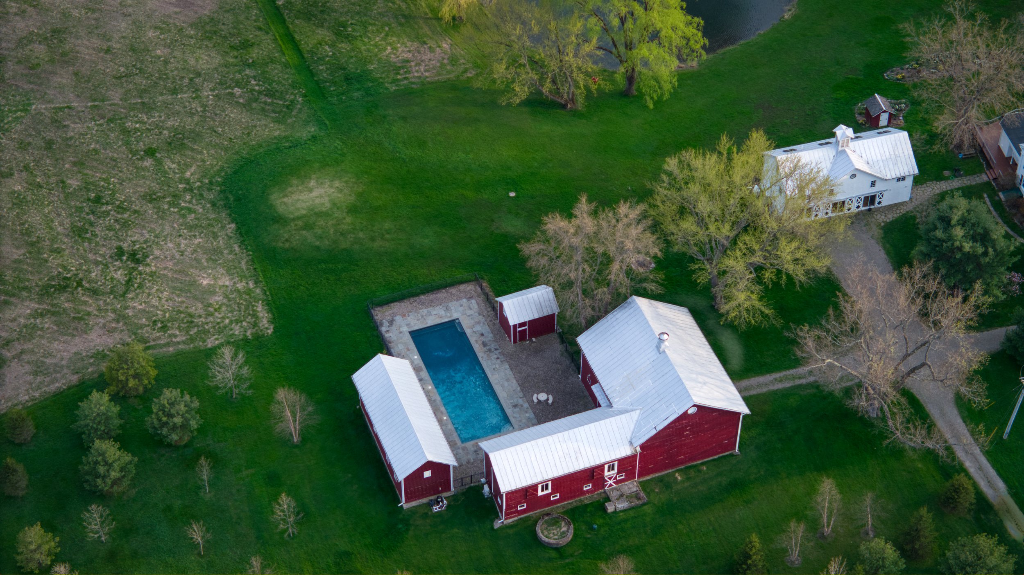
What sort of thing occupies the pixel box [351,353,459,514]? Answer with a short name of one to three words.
barn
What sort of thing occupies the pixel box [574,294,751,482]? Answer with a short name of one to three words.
barn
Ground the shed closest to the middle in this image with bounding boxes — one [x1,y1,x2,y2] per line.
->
[496,286,560,346]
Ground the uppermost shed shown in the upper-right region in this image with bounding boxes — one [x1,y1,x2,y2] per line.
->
[865,90,896,126]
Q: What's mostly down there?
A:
grass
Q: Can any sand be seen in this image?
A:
No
